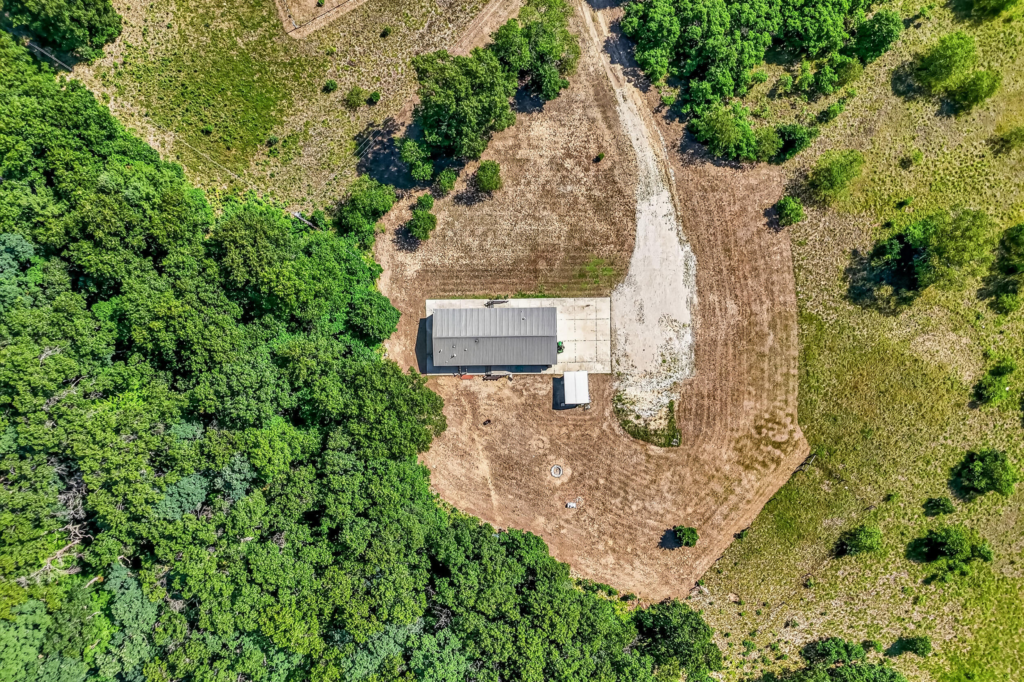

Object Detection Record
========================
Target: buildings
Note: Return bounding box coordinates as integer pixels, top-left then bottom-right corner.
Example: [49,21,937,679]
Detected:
[432,307,557,367]
[564,369,589,404]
